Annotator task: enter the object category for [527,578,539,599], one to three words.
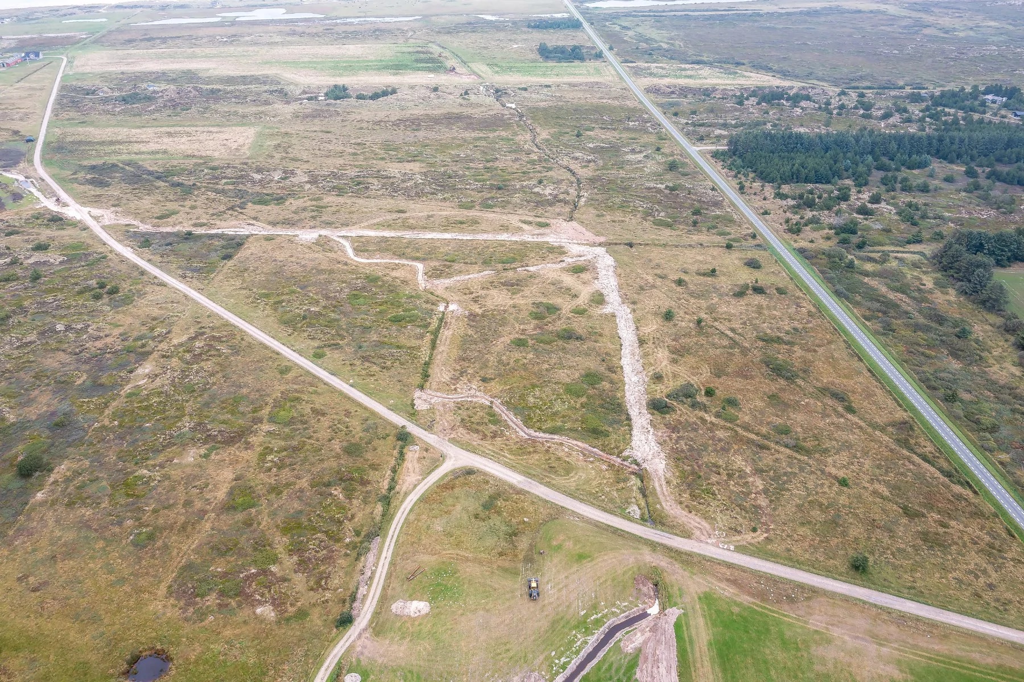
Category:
vehicle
